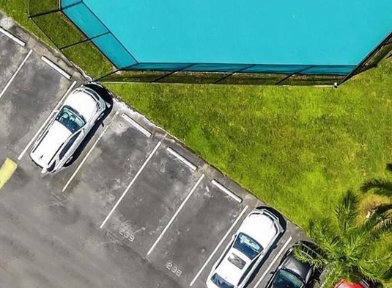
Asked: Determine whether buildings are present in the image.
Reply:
No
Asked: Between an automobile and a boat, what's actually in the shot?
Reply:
automobile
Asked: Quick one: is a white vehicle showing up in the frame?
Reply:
Yes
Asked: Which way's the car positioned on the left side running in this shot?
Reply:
on a diagonal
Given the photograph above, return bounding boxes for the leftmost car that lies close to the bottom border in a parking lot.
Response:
[207,208,283,288]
